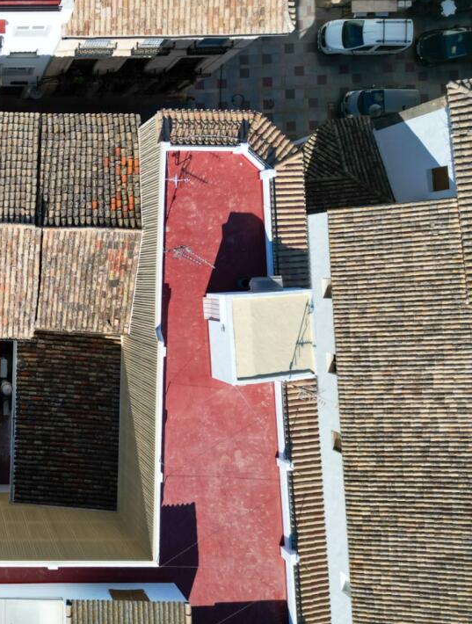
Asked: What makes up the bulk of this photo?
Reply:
buildings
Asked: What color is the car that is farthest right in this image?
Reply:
black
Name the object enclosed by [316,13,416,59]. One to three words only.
car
